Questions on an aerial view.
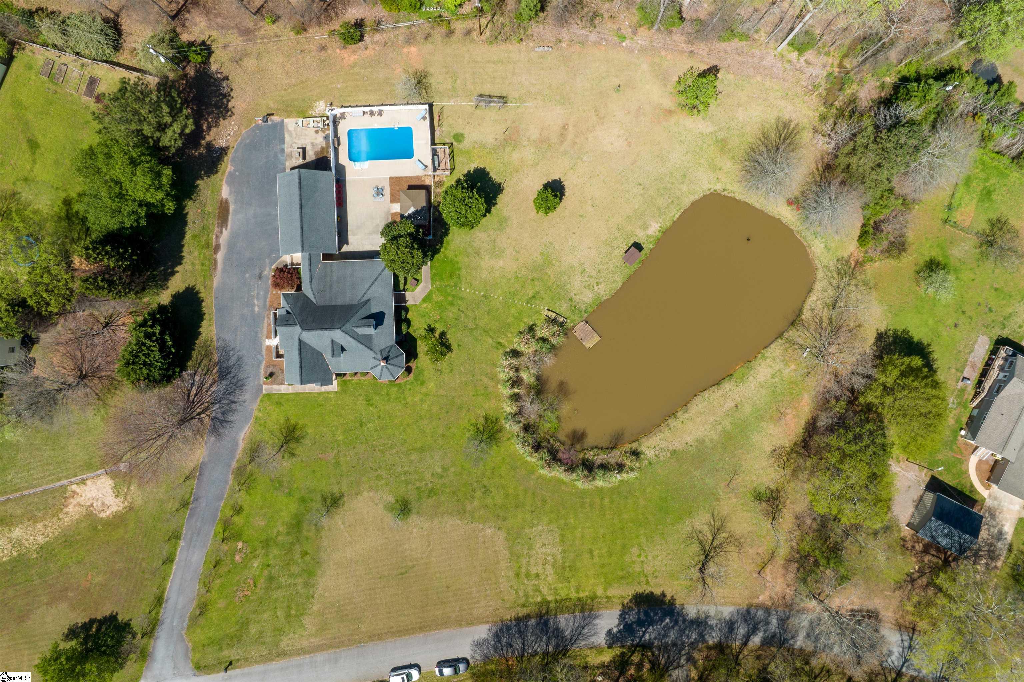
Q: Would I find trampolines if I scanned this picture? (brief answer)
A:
Yes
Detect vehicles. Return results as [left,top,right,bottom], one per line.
[435,662,469,679]
[386,668,420,682]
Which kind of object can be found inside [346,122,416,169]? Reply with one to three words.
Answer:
swimming pool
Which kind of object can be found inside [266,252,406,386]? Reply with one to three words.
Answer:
house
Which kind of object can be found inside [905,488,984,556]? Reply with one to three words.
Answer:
shed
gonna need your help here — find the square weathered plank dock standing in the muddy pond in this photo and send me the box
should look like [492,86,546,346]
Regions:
[573,321,601,349]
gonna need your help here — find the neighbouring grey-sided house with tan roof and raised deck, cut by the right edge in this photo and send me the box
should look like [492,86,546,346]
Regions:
[959,347,1024,501]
